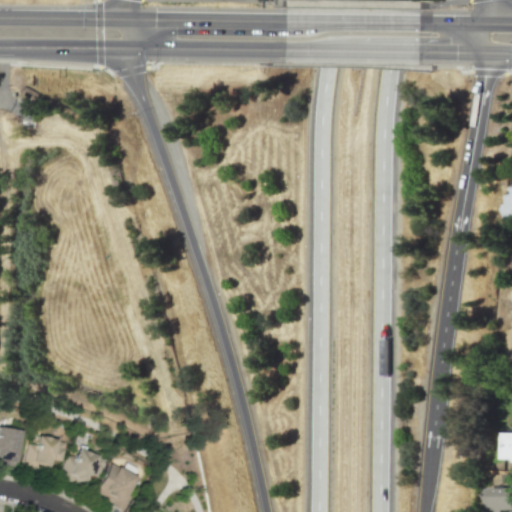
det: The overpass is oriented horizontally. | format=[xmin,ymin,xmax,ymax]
[286,0,433,71]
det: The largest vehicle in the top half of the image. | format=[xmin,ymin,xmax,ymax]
[470,82,482,127]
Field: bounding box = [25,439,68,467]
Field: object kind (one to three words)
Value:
house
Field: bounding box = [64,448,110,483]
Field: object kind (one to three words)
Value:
house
